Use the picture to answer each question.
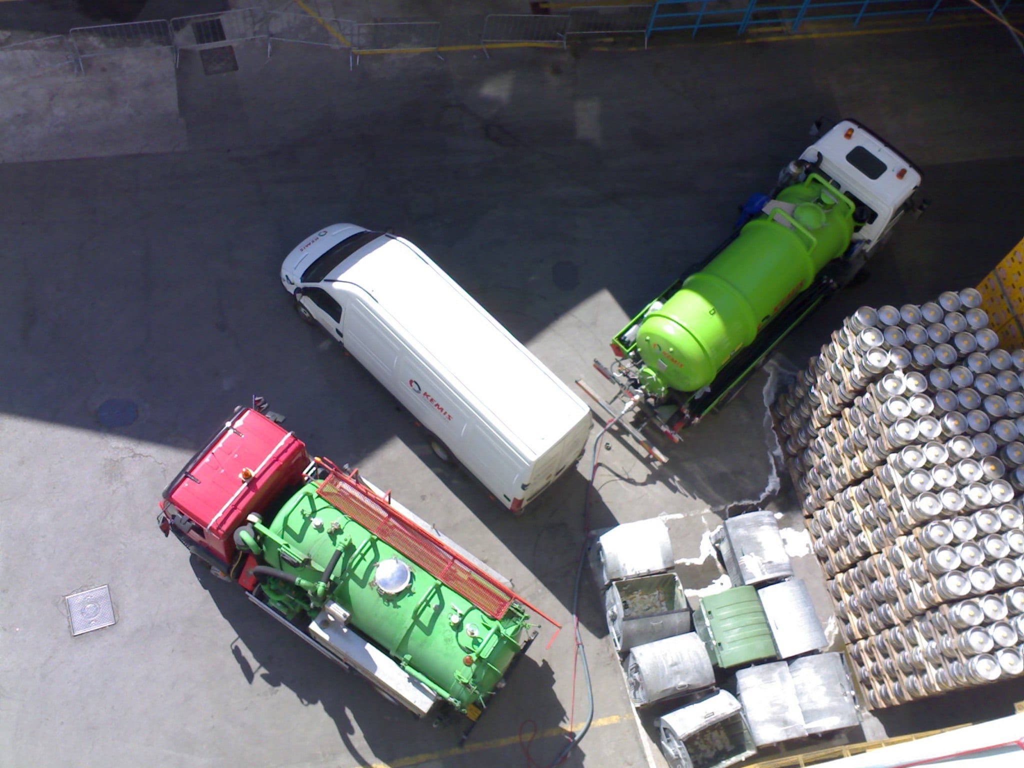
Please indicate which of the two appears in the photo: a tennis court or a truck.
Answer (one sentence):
The one in the frame is a truck.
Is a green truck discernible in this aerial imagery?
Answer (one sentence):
Yes, the frame does contain a green truck.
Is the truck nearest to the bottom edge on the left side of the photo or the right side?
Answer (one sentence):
The truck nearest to the bottom edge is on the left side of the image.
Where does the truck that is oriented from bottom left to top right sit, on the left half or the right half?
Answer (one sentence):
The truck that is oriented from bottom left to top right is on the right side of the image.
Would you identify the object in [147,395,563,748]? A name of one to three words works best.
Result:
truck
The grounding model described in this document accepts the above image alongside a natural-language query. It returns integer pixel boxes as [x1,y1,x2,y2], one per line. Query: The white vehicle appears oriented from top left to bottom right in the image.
[283,221,595,507]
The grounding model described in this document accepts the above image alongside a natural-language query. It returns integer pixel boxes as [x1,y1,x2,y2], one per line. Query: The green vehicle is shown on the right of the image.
[572,116,928,465]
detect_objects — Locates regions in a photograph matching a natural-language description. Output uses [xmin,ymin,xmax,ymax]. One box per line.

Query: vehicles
[283,221,595,507]
[147,395,563,748]
[572,116,928,465]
